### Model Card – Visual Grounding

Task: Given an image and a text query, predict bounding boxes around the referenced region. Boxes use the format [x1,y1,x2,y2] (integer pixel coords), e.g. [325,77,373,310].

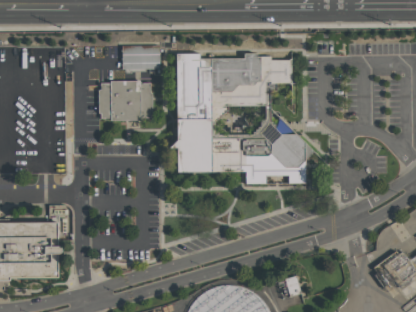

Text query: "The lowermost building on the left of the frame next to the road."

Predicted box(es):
[0,222,62,282]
